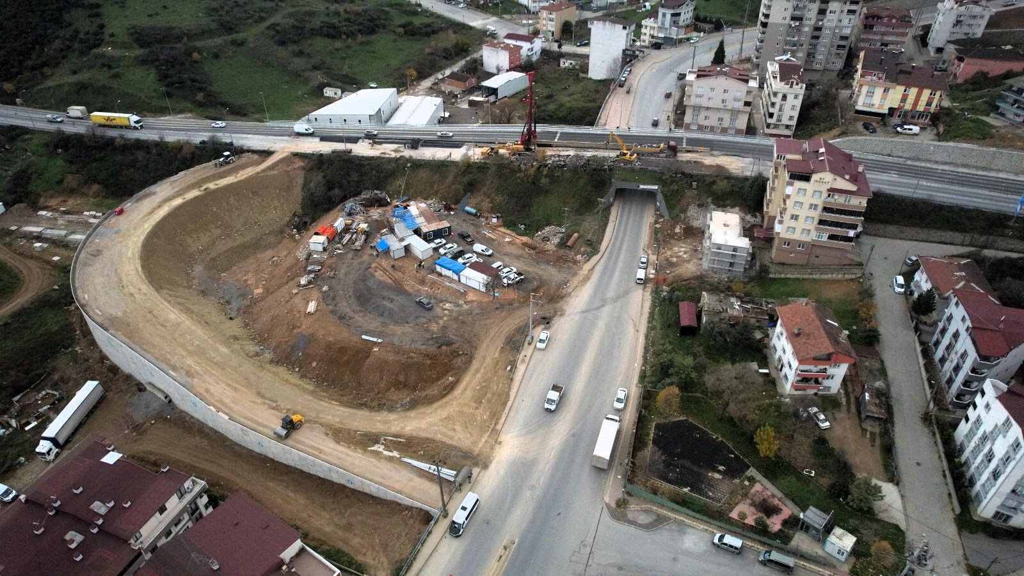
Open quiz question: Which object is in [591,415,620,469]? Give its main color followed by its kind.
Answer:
white truck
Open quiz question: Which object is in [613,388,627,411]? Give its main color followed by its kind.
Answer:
white car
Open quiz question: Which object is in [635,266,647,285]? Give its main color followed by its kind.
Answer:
white vehicle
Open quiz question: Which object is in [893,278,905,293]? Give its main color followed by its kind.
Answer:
white vehicle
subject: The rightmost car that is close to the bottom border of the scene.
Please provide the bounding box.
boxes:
[758,549,795,573]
